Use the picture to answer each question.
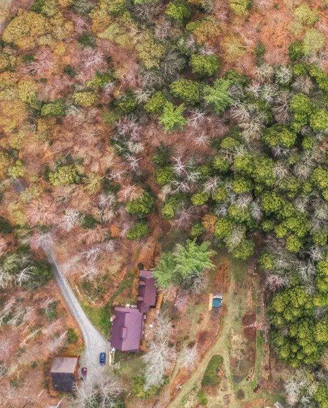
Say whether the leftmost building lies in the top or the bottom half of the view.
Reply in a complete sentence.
The leftmost building is in the bottom half of the image.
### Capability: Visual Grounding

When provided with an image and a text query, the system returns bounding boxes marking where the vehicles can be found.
[80,368,87,377]
[99,351,106,364]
